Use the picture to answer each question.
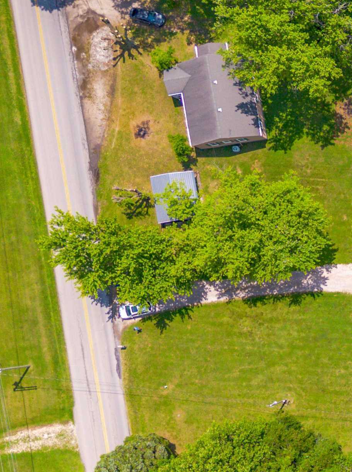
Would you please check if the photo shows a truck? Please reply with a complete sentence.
No, I find no truck anywhere in the image.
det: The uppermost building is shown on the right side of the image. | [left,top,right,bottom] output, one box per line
[163,43,265,149]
